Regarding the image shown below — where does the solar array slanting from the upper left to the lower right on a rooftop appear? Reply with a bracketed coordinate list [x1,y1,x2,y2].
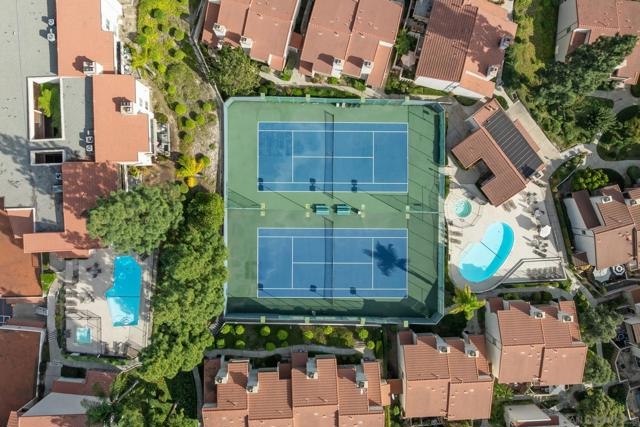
[484,110,544,181]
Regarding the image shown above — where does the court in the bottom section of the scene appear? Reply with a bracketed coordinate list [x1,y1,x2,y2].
[229,209,438,317]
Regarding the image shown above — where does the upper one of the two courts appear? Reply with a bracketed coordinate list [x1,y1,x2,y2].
[229,102,438,209]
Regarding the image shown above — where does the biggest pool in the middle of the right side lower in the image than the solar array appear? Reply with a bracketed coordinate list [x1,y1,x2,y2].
[458,220,517,284]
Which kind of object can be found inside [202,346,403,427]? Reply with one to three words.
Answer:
house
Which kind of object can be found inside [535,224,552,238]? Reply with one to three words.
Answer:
umbrella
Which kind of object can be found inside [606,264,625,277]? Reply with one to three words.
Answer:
umbrella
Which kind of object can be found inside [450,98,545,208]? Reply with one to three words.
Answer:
building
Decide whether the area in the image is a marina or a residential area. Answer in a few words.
residential area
